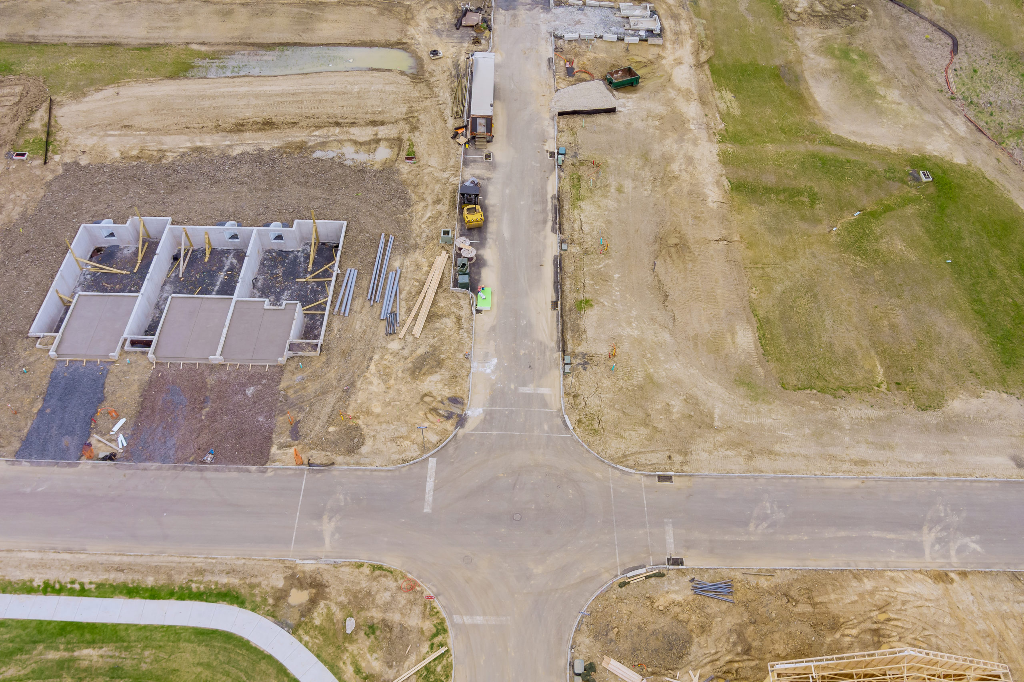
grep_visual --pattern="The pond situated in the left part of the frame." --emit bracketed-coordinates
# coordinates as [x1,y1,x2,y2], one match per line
[188,46,413,78]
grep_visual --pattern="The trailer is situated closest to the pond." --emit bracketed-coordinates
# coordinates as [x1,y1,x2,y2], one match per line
[470,52,495,137]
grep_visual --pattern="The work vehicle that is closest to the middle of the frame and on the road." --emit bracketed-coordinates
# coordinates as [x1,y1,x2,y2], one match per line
[462,176,484,222]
